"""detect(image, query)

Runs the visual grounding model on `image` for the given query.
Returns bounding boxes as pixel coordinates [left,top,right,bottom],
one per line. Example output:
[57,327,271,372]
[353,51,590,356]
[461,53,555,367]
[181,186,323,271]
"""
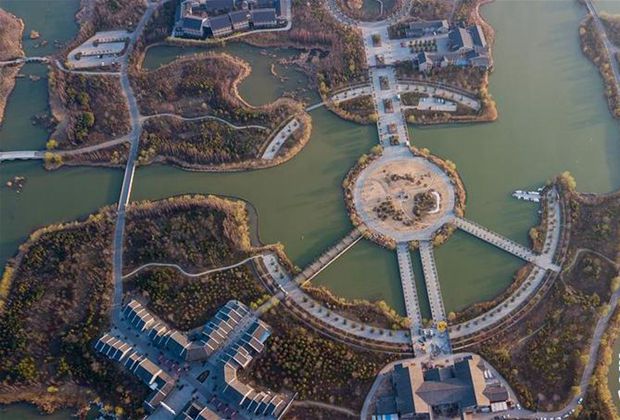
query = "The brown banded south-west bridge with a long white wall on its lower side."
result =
[293,226,361,286]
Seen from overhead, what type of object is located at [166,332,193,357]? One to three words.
building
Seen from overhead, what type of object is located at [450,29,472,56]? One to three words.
building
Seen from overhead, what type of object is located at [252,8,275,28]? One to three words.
house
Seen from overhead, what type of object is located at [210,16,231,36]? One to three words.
house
